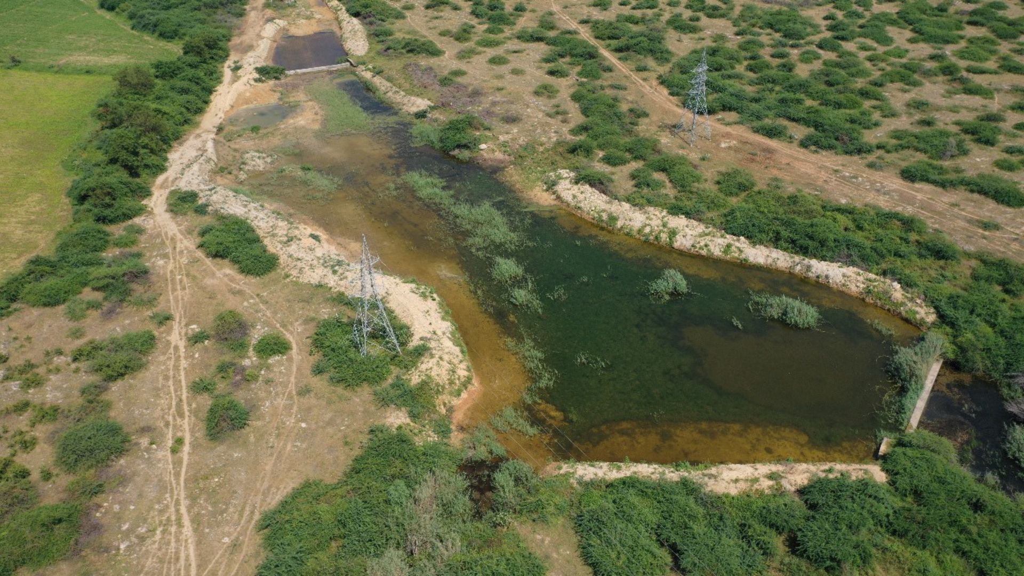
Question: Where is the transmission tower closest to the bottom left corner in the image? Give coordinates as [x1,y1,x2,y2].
[348,233,400,356]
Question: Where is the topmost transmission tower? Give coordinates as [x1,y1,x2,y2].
[673,48,713,145]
